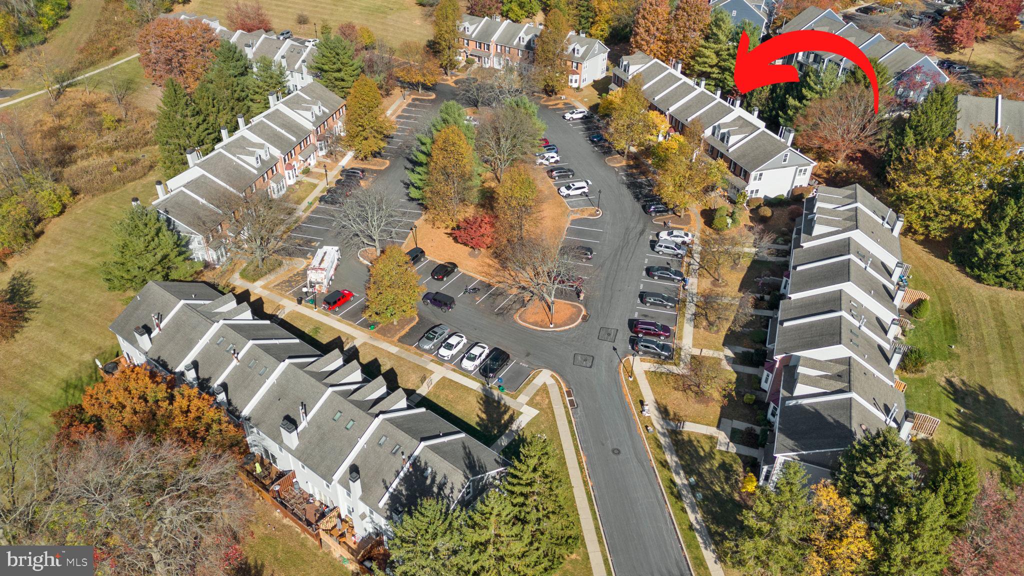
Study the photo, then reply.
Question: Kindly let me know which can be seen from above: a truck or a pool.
truck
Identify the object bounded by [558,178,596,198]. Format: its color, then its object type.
white car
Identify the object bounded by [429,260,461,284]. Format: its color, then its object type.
black car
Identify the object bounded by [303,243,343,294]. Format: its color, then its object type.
white truck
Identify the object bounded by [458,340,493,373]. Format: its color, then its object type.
white car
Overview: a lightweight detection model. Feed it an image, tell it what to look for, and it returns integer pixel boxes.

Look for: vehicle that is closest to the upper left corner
[277,27,292,39]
